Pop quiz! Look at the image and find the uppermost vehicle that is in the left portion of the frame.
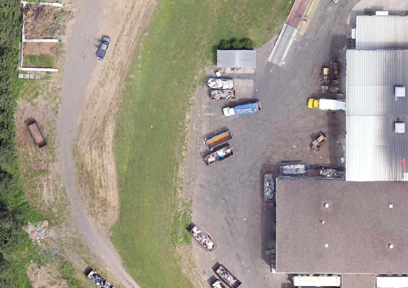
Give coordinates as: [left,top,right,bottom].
[96,35,110,59]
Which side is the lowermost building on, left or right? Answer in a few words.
right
